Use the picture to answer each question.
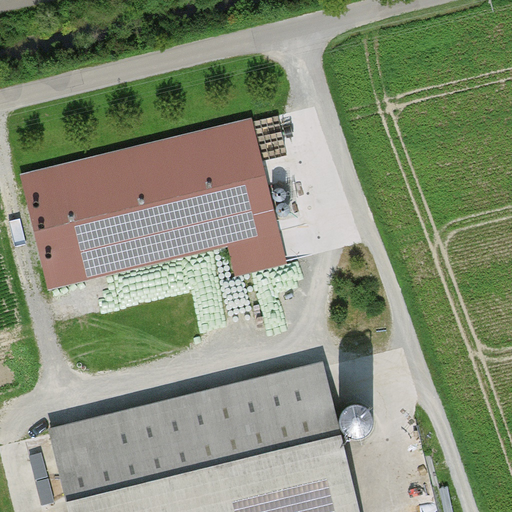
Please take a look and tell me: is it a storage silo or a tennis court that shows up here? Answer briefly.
storage silo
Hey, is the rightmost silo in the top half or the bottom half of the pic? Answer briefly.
bottom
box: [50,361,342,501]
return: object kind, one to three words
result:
barn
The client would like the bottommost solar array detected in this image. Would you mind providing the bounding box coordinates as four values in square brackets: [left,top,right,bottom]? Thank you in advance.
[233,479,335,512]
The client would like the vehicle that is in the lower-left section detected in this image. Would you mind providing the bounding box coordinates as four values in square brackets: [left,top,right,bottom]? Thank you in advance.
[28,417,49,437]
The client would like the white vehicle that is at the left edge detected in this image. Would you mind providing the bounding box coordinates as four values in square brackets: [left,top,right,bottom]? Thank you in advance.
[10,218,26,246]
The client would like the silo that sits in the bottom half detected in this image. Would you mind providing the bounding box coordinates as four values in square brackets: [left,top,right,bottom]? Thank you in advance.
[338,404,373,444]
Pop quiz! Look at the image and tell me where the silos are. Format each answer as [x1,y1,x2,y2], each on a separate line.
[272,187,289,202]
[274,202,293,218]
[338,404,373,444]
